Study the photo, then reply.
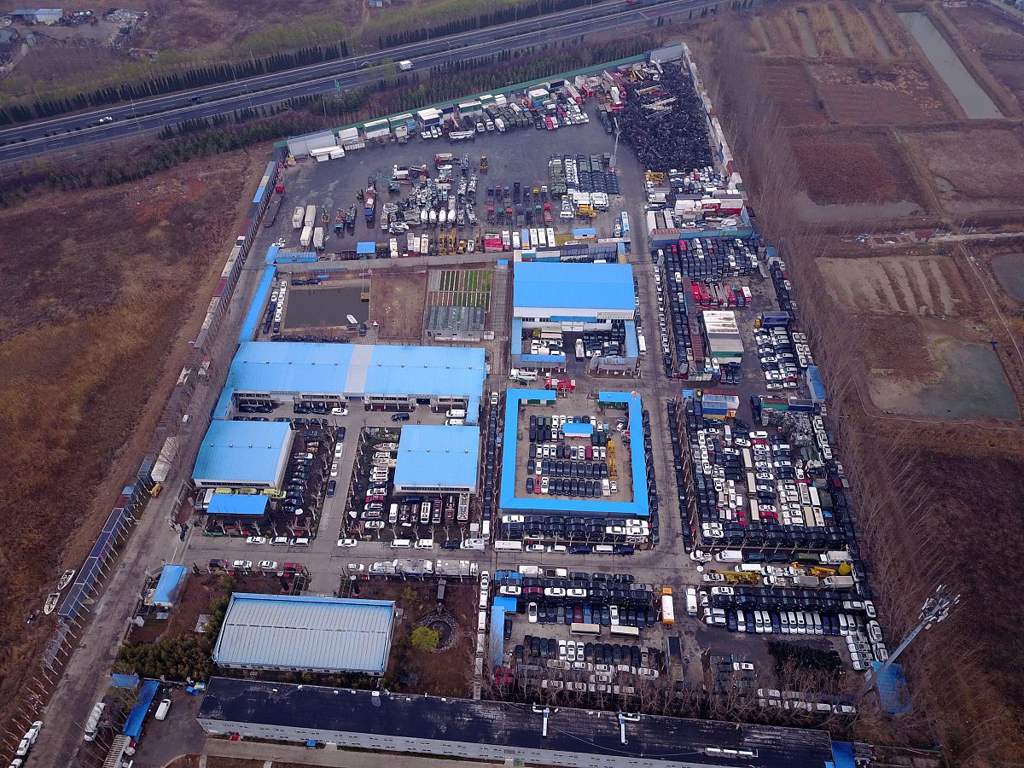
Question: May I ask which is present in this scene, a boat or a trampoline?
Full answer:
Looking from above, you can make out a boat.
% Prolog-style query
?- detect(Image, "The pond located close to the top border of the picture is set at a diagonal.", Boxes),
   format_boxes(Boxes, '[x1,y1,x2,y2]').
[899,11,1003,118]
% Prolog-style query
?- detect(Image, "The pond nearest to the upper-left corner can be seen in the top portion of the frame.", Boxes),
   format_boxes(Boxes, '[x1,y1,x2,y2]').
[284,286,370,327]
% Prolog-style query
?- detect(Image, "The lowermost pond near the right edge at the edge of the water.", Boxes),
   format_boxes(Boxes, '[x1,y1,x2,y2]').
[872,338,1021,421]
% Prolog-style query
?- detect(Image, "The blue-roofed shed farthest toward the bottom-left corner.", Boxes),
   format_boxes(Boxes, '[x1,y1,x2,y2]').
[123,679,164,740]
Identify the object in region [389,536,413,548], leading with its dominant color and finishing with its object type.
white vehicle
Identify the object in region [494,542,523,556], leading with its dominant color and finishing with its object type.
white vehicle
